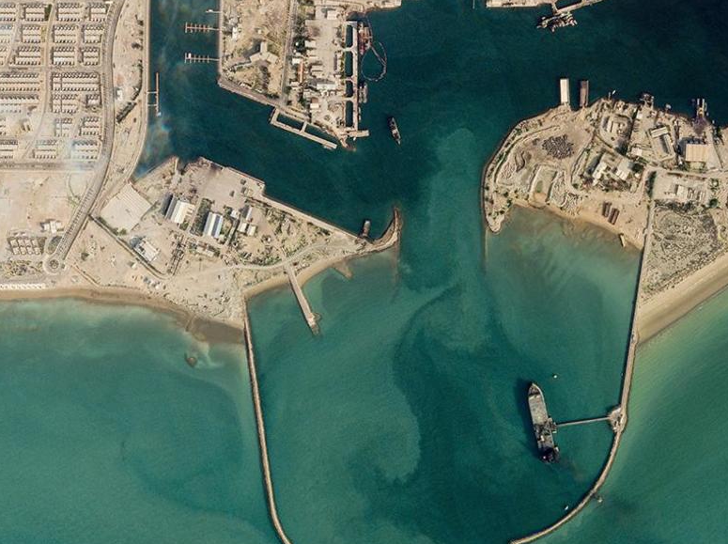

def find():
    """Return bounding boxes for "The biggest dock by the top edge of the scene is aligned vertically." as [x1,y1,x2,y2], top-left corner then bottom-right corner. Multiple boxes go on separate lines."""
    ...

[345,21,357,131]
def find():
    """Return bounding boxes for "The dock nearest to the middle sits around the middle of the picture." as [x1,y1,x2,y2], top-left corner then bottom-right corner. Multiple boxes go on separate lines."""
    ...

[284,264,318,334]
